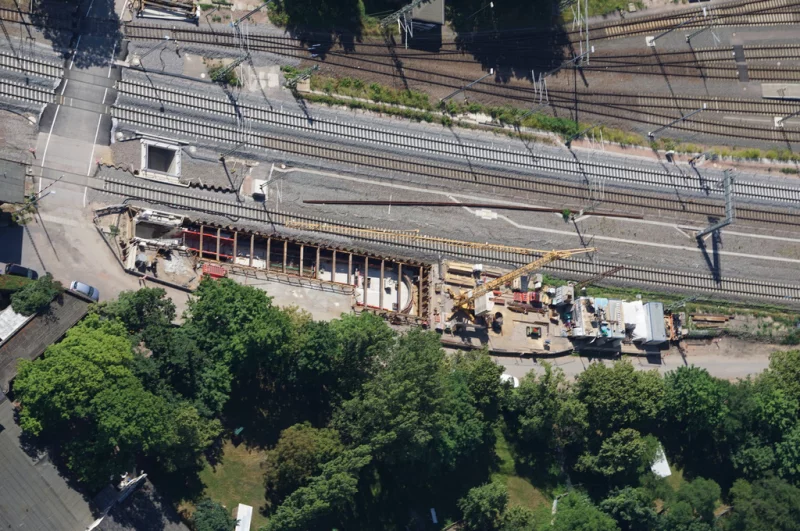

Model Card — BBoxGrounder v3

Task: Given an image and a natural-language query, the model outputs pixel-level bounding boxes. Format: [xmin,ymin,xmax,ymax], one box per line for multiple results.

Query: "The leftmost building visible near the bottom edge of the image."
[0,391,96,531]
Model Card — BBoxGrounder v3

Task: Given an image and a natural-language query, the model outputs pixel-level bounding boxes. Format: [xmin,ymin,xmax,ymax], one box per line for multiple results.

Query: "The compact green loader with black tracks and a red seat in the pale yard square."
[527,323,545,343]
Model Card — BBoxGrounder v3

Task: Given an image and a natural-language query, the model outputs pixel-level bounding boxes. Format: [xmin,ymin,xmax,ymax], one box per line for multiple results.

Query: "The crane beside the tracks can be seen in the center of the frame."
[280,219,594,326]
